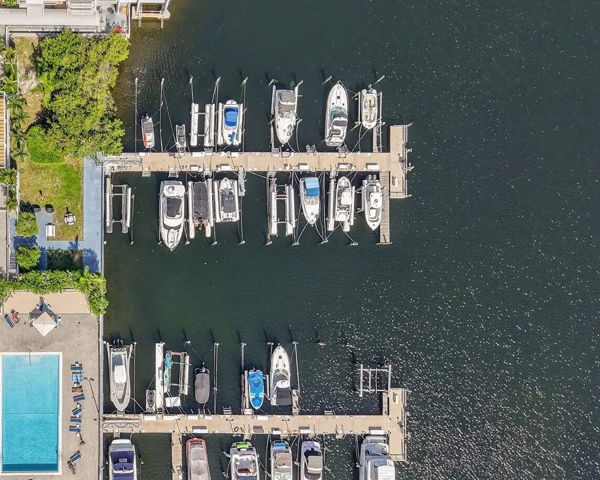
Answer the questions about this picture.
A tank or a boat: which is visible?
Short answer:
boat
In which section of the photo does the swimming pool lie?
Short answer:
bottom left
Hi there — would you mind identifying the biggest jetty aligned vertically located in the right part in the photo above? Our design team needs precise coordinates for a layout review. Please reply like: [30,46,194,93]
[378,172,391,243]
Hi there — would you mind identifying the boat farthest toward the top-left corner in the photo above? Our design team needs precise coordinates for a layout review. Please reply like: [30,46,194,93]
[140,114,156,152]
